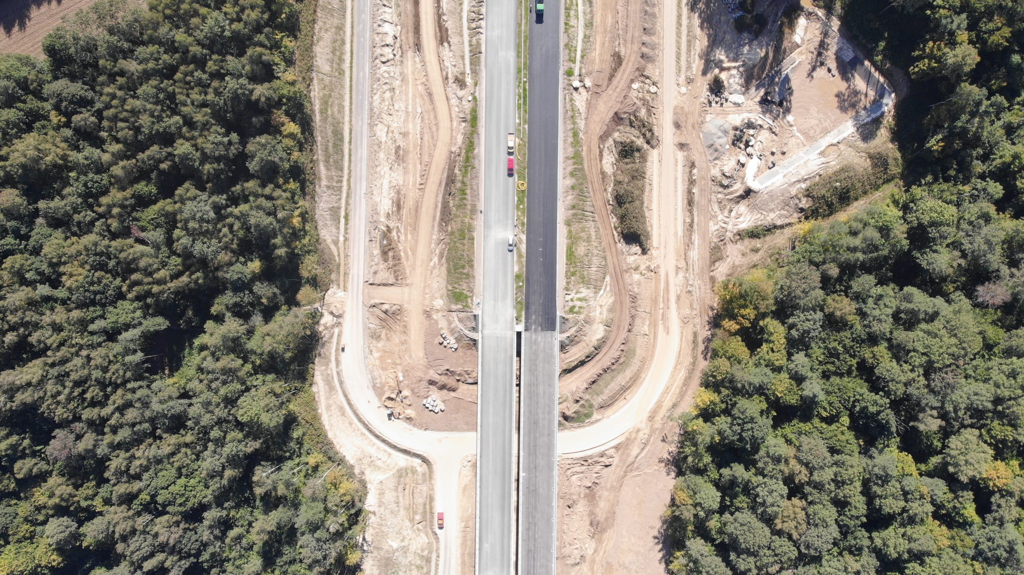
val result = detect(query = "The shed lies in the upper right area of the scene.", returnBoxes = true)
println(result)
[836,37,863,62]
